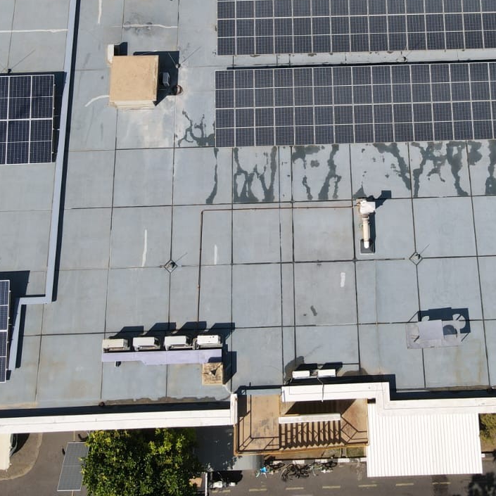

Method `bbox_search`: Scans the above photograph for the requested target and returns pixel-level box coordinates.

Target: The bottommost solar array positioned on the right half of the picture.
[214,63,496,146]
